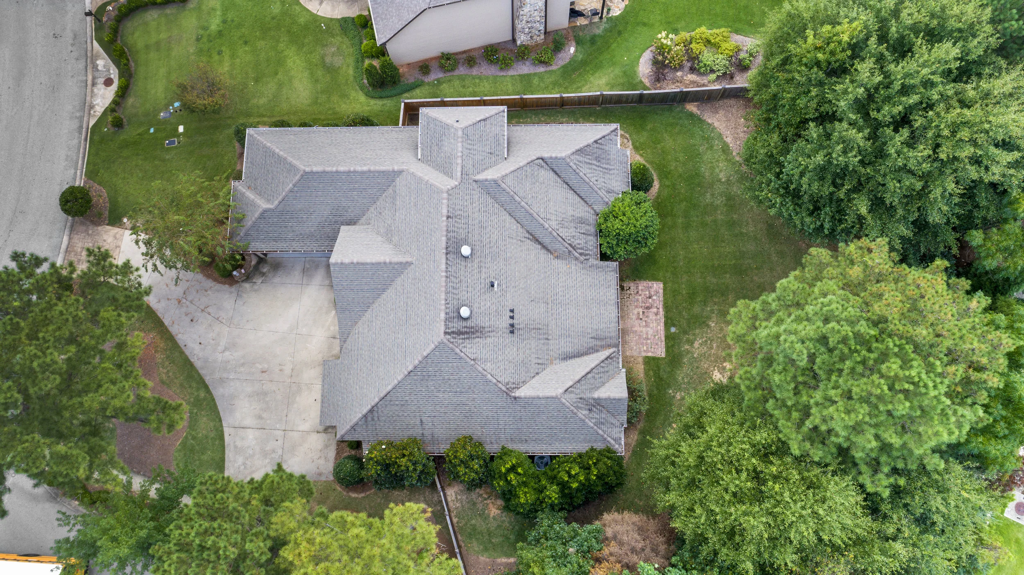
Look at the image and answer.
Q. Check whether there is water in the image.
No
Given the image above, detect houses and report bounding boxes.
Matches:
[224,105,633,457]
[365,0,573,65]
